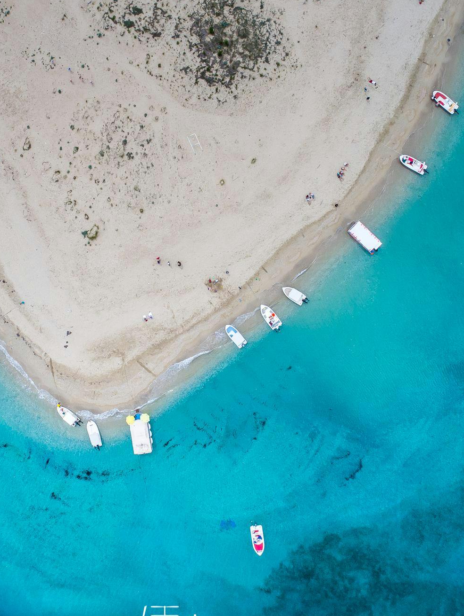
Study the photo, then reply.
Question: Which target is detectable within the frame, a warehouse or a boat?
boat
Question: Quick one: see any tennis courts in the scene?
No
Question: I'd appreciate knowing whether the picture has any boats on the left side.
Yes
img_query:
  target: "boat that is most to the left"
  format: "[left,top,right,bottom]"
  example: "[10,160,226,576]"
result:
[59,407,84,429]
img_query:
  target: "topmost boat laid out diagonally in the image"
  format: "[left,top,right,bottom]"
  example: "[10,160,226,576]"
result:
[432,92,458,116]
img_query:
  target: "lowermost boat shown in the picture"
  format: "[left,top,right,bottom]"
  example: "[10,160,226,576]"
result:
[251,522,264,556]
